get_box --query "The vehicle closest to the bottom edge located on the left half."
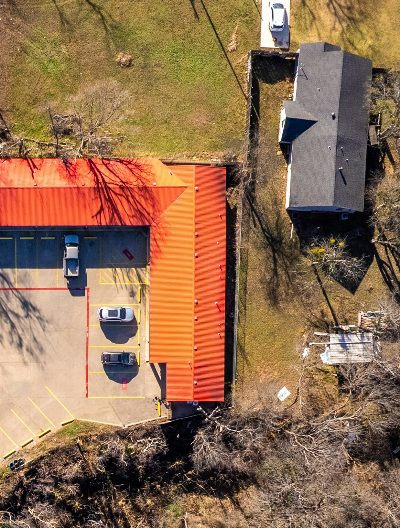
[102,350,138,367]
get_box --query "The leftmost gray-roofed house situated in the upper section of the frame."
[282,41,372,213]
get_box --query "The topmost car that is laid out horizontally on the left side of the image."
[99,305,137,322]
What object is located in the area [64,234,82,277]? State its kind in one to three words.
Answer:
vehicle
